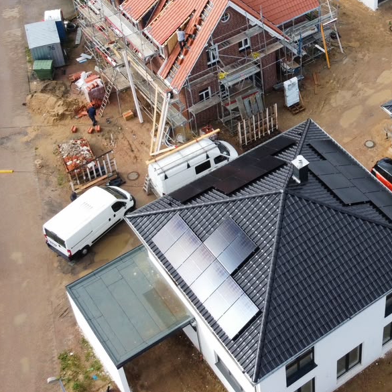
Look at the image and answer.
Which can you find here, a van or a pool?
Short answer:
van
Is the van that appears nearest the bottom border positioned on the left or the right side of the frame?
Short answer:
left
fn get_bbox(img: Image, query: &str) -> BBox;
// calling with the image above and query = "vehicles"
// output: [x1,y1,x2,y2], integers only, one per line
[29,182,144,265]
[144,135,237,197]
[370,152,392,189]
